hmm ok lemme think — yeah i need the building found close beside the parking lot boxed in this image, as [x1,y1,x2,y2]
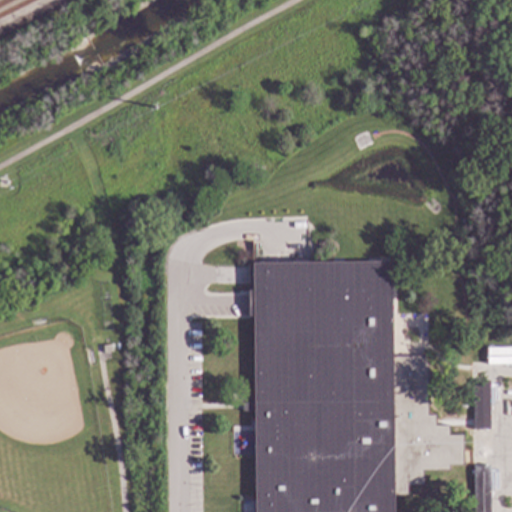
[244,262,398,512]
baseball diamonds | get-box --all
[0,332,84,444]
